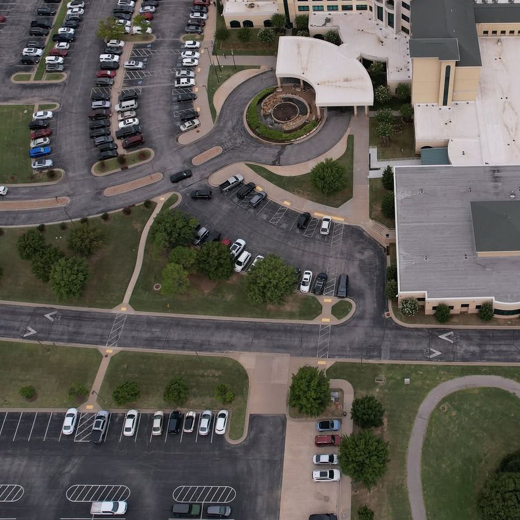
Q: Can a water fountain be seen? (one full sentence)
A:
Yes, this view includes a water fountain.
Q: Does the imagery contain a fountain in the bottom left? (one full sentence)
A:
No, in the bottom left there is no fountain.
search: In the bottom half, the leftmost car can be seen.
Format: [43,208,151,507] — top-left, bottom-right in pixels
[61,409,79,436]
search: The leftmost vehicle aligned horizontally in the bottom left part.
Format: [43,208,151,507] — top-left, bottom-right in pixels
[90,499,127,516]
